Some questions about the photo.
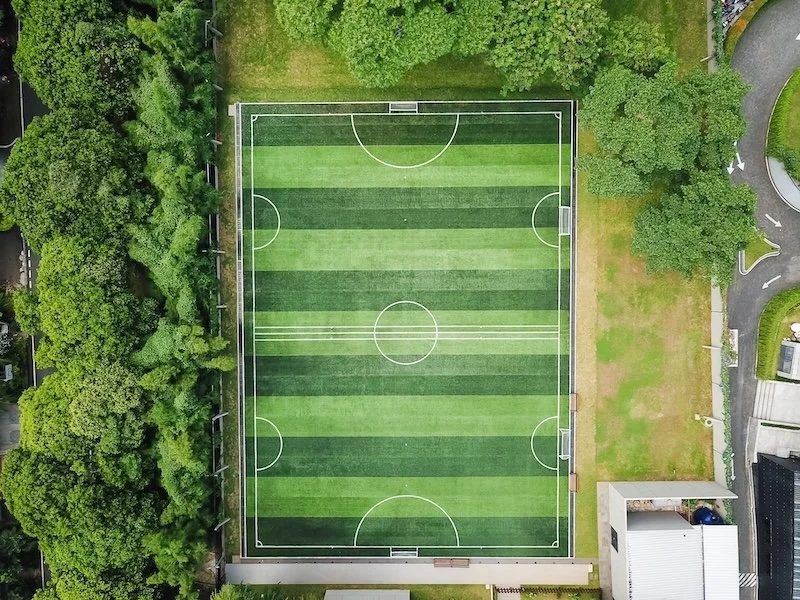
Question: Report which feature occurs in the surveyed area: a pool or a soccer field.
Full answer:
Looking from above, you can make out a soccer field.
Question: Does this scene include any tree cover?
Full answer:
Yes, there is tree cover in the image.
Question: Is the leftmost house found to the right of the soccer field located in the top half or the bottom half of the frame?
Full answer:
It is in the bottom half that the leftmost house found to the right of the soccer field appears.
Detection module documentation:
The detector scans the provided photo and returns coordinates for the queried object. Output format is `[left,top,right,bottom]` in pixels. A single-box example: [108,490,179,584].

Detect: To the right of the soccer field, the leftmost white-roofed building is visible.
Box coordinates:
[609,482,739,600]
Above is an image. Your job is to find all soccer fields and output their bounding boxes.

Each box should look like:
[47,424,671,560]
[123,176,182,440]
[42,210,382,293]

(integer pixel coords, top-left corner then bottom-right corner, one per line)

[235,100,578,559]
